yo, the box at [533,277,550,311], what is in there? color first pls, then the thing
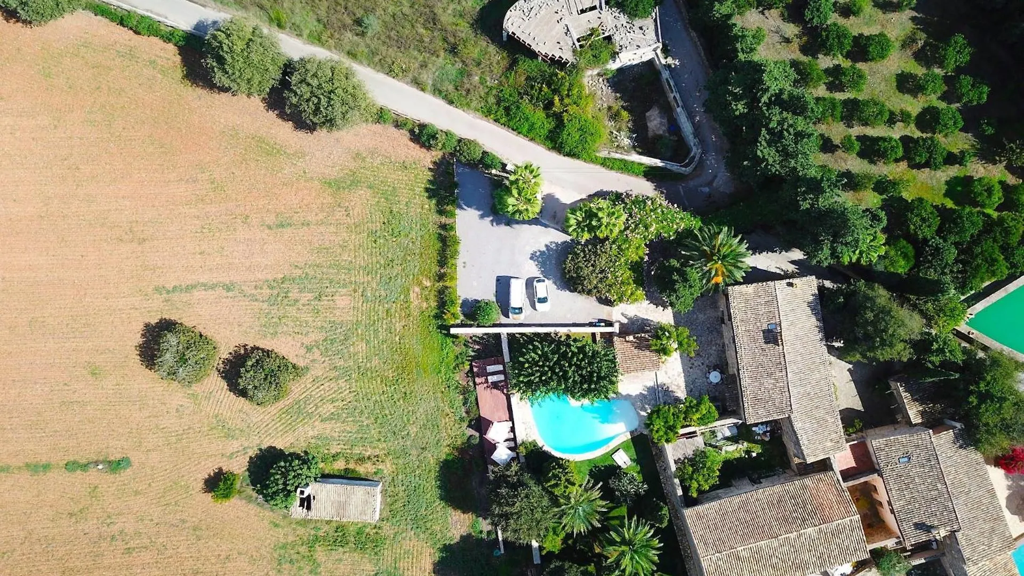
white car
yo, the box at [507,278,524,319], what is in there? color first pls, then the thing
white vehicle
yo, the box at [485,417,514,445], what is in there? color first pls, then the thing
white umbrella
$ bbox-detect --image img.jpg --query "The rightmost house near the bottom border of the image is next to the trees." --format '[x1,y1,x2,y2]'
[867,421,1024,576]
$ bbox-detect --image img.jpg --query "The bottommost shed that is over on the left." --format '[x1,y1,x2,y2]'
[291,477,384,523]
